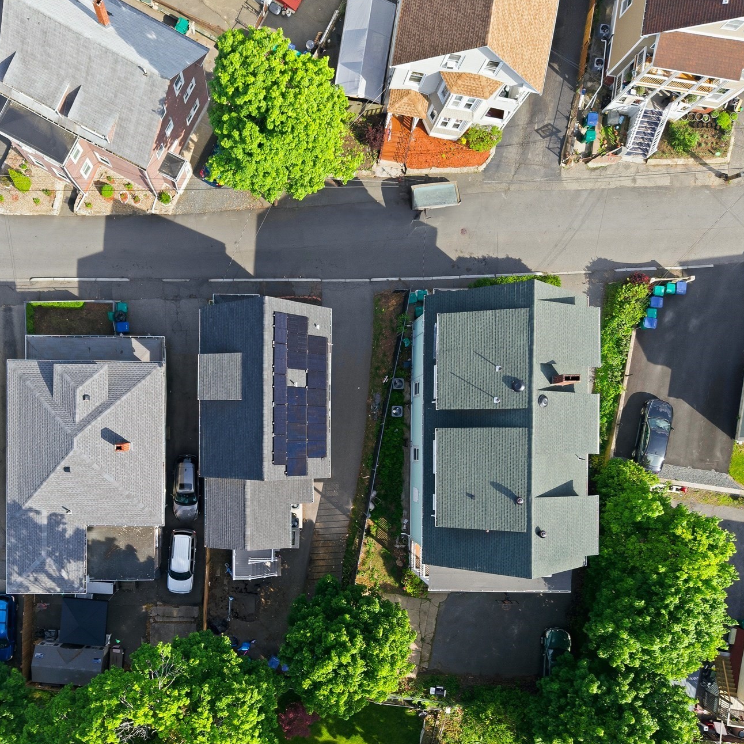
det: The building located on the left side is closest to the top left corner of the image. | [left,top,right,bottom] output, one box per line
[0,0,215,196]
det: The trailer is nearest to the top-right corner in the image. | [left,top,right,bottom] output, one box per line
[409,177,463,225]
